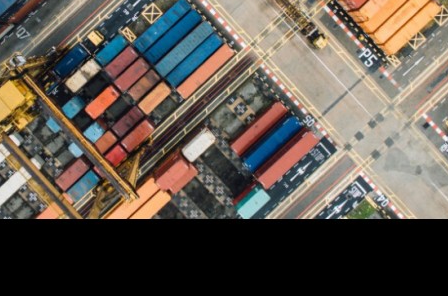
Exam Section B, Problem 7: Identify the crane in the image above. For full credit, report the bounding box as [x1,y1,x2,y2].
[0,41,151,243]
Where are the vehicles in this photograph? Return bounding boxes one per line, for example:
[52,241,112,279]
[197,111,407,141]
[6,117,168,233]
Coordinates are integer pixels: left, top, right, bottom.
[279,0,327,45]
[81,27,106,53]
